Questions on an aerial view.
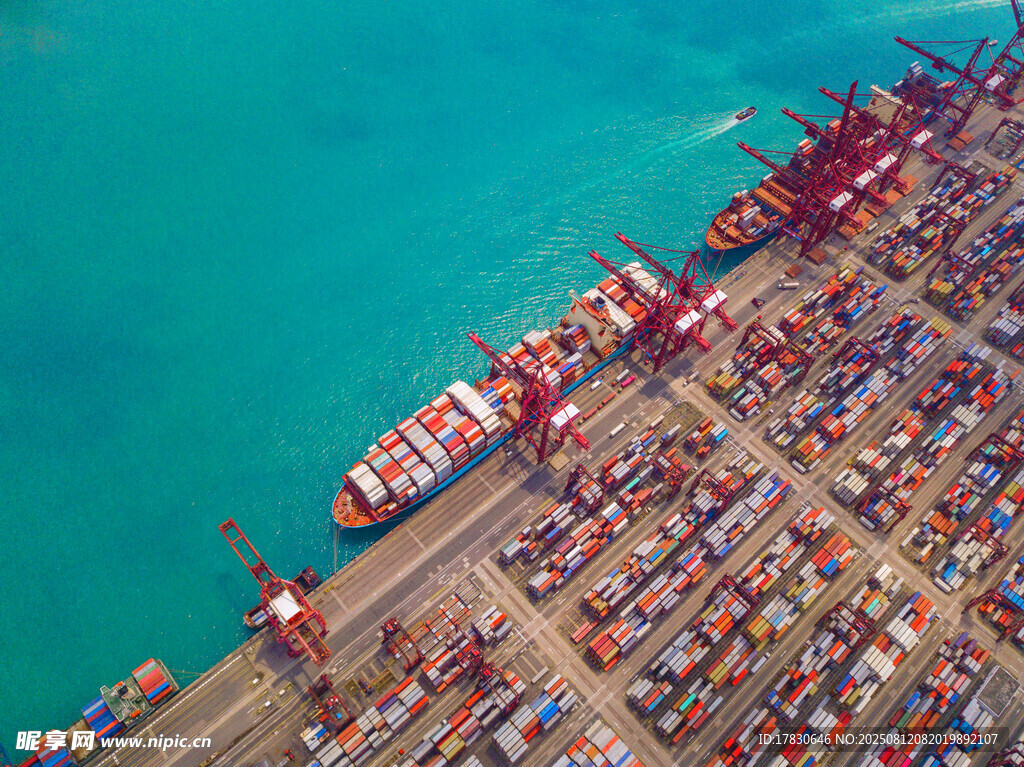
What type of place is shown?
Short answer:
port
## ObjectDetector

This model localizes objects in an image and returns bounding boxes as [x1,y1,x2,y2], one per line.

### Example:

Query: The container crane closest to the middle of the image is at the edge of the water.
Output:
[466,332,597,462]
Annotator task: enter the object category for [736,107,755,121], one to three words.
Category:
boat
